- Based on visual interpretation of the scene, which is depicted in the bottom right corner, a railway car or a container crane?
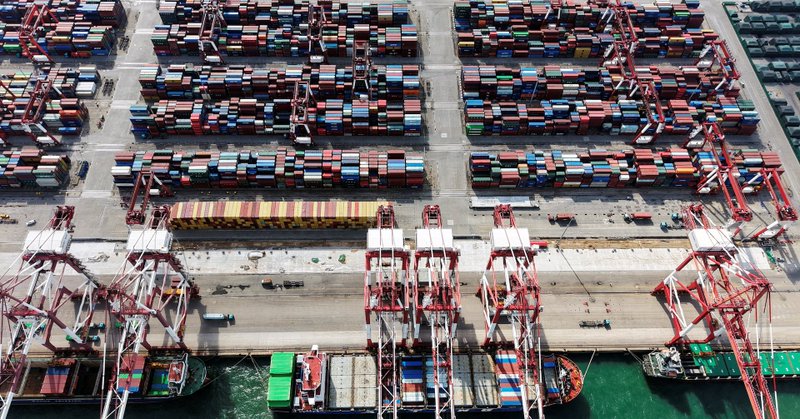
container crane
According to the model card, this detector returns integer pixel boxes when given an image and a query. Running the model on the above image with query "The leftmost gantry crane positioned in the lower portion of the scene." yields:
[0,207,103,391]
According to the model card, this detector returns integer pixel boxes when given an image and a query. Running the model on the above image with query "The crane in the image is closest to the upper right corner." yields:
[689,40,745,105]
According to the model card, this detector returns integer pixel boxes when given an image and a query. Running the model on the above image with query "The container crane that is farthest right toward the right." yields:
[734,167,800,243]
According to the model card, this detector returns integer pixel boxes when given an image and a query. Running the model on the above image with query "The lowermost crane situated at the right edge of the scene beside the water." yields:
[650,206,791,419]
